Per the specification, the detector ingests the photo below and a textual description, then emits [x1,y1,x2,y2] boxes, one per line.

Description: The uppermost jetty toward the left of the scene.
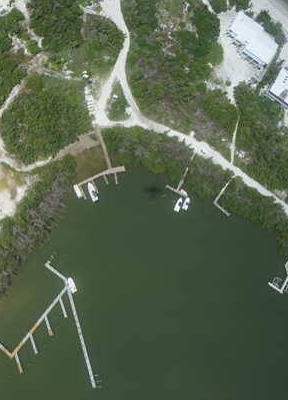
[77,128,125,199]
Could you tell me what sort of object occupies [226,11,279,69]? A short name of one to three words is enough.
house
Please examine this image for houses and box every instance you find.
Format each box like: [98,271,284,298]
[262,68,288,111]
[226,11,279,69]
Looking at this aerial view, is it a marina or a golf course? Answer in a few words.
marina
